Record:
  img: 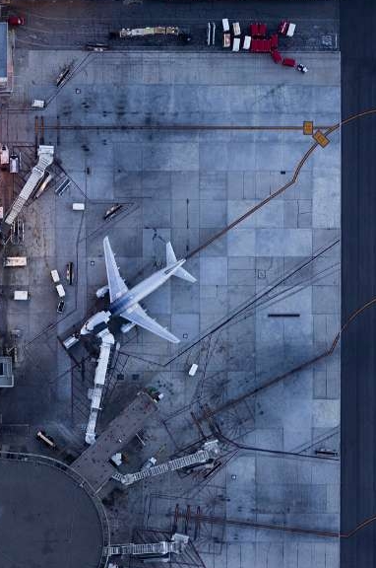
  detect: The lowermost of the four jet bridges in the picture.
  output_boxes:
[105,533,187,558]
